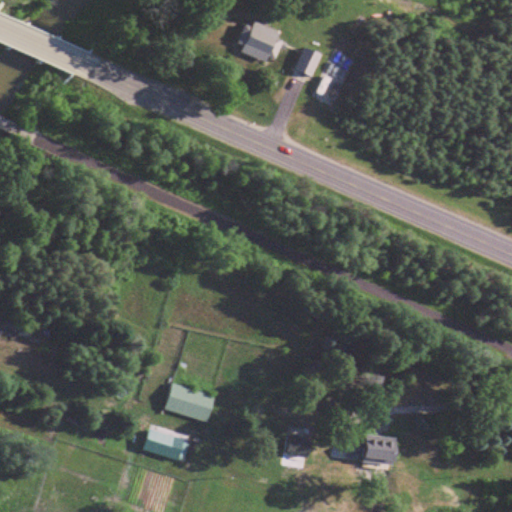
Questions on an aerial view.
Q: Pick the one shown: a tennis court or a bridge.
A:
bridge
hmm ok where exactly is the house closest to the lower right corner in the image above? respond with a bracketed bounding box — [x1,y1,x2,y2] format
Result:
[362,434,398,470]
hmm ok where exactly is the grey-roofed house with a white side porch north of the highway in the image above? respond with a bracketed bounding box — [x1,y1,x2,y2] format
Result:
[242,22,283,62]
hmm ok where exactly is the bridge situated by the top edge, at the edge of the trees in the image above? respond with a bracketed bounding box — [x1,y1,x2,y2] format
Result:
[0,14,92,84]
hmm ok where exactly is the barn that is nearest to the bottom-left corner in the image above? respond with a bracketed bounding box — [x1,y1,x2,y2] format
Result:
[143,424,189,460]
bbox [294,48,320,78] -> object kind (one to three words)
building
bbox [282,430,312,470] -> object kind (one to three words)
house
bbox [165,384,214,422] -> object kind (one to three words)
barn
